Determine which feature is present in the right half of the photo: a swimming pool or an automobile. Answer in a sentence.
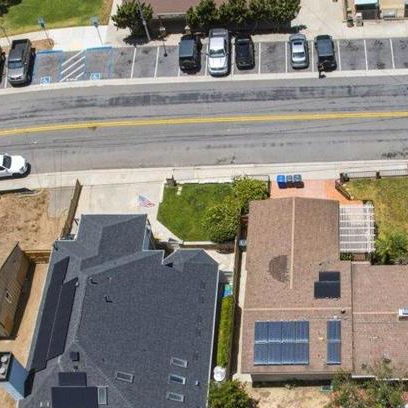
There is an automobile in the right half of the photo.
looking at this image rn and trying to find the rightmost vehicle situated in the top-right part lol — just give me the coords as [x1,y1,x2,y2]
[315,31,337,73]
